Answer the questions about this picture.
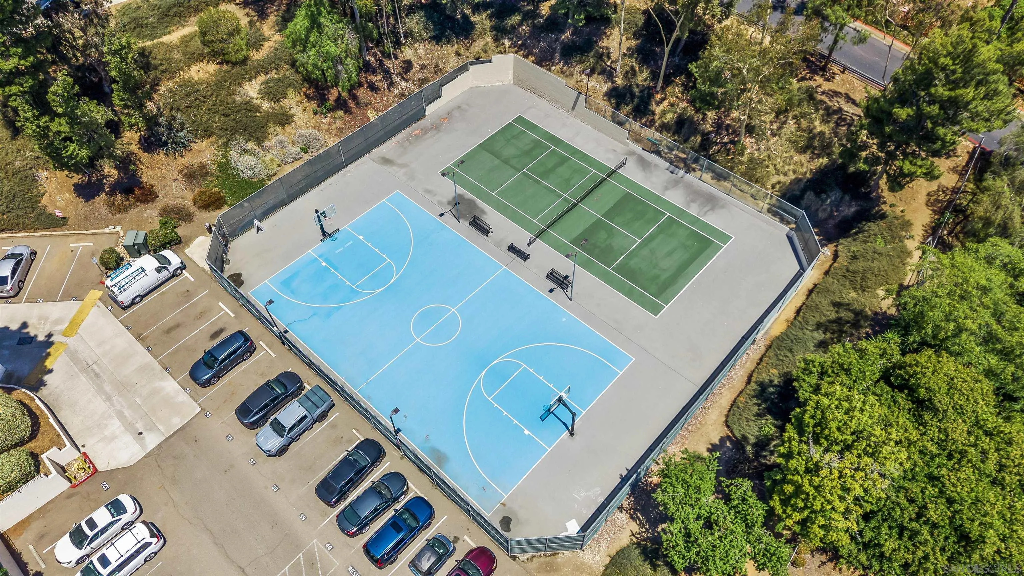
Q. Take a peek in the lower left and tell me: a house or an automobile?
automobile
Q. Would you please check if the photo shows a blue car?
Yes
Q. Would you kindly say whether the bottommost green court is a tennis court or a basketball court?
tennis court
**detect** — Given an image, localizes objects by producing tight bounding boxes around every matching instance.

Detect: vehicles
[103,254,185,312]
[313,440,385,509]
[0,248,34,298]
[189,333,253,388]
[445,546,497,576]
[52,496,138,571]
[335,472,409,542]
[363,499,434,570]
[234,373,304,431]
[252,390,331,461]
[408,532,455,576]
[80,527,160,576]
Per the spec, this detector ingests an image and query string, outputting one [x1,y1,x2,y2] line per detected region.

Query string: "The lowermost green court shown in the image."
[438,114,734,318]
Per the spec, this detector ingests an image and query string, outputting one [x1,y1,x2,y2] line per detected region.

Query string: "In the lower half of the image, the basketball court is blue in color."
[249,190,636,515]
